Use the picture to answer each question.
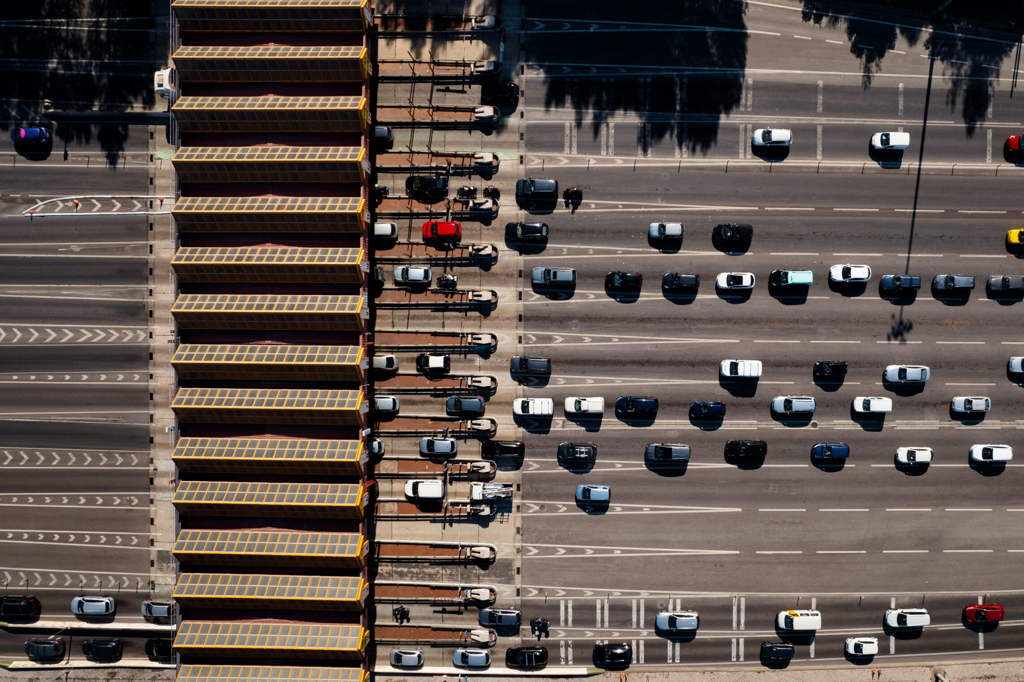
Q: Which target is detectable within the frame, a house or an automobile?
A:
automobile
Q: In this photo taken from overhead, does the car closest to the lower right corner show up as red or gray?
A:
red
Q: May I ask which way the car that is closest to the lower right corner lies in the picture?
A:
horizontally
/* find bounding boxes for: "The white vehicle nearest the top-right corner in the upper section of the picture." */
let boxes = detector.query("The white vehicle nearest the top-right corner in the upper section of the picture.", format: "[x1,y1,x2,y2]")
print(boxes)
[870,129,913,151]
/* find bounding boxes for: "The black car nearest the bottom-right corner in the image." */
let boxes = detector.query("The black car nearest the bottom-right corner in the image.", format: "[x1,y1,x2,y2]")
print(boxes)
[760,640,794,661]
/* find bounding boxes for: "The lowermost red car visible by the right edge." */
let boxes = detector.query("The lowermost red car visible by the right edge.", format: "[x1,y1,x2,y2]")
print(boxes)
[961,603,1004,624]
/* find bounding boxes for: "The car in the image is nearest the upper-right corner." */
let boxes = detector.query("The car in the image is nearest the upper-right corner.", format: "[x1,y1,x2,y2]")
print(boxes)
[1001,133,1024,153]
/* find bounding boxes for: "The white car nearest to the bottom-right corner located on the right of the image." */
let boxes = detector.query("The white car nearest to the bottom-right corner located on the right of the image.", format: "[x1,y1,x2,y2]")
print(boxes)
[884,607,930,630]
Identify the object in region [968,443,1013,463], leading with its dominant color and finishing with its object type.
white car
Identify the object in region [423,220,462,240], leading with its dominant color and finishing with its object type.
red car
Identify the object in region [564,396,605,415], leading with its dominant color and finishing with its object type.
white vehicle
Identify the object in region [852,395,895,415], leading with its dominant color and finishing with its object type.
white vehicle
